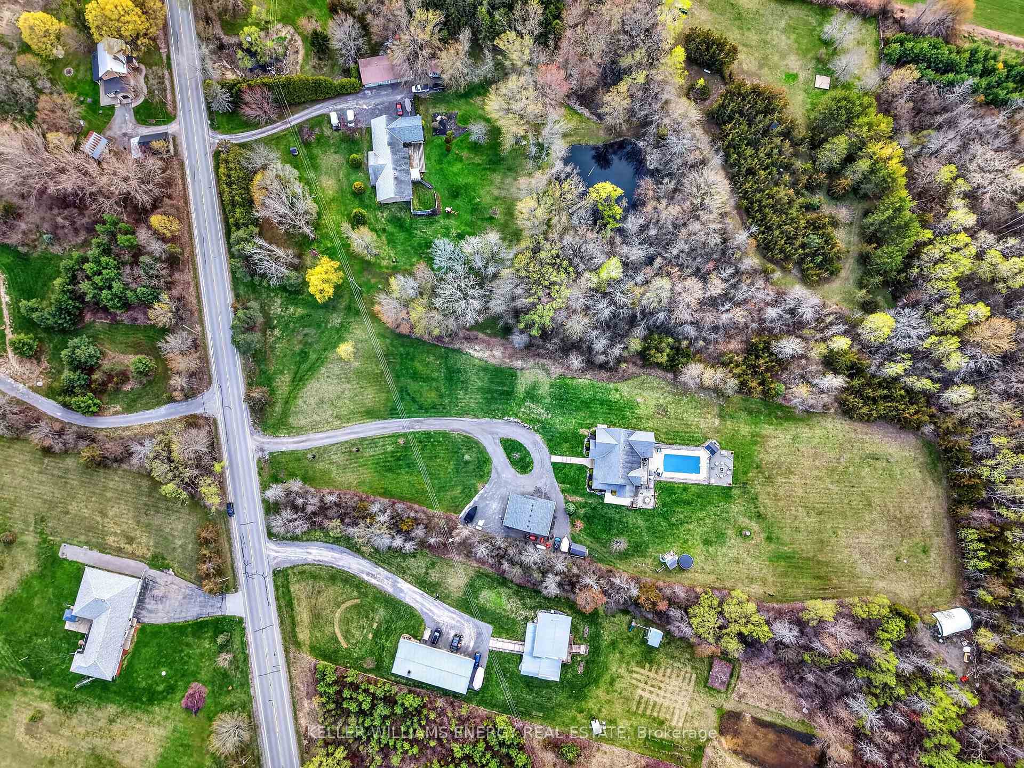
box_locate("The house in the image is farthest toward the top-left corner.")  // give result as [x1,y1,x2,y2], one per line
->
[92,40,137,99]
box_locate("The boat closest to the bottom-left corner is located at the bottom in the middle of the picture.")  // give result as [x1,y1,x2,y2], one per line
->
[474,667,487,694]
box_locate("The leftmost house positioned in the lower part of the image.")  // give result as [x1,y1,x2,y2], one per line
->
[70,566,145,681]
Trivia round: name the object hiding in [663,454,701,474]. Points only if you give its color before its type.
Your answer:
blue swimming pool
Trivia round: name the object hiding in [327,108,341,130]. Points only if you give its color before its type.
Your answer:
white vehicle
